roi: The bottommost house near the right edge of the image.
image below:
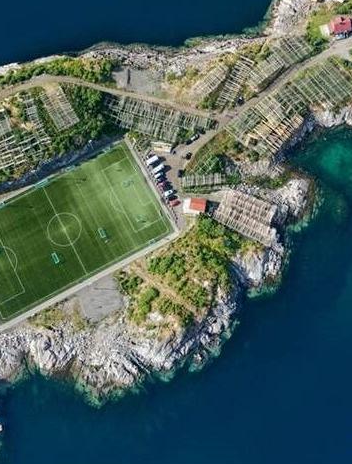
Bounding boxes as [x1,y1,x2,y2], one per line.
[321,17,352,37]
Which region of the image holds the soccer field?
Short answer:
left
